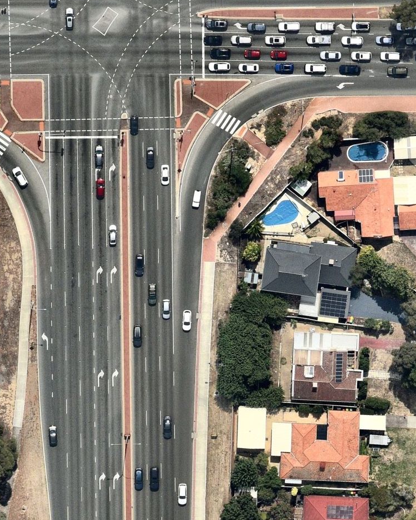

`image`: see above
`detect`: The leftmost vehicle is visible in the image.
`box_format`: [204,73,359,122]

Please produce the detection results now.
[12,166,29,189]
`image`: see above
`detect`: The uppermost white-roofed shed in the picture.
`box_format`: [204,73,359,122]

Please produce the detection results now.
[393,136,416,160]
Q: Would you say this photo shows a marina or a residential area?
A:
residential area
